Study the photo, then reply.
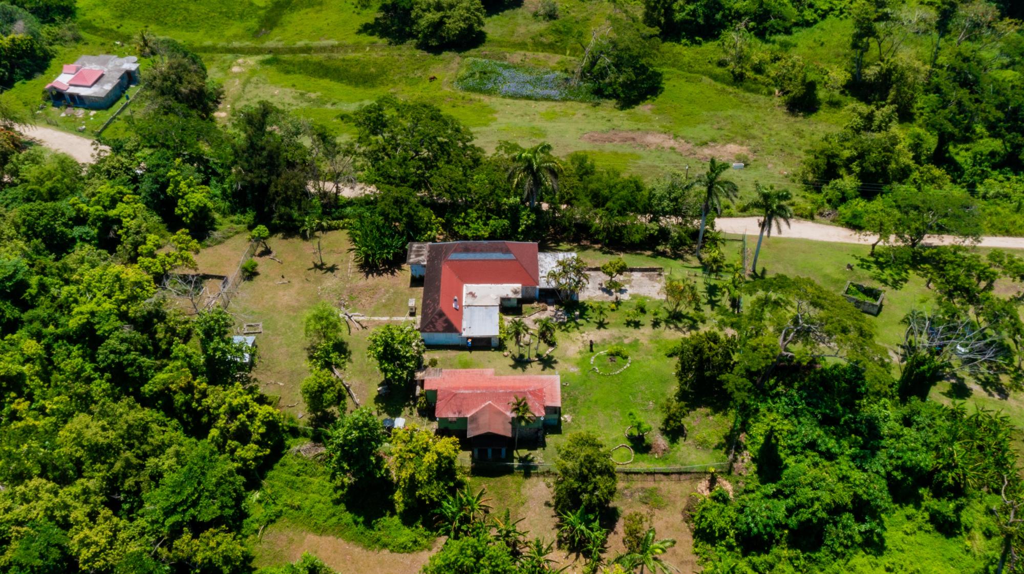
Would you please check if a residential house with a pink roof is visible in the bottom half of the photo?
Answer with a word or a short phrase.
Yes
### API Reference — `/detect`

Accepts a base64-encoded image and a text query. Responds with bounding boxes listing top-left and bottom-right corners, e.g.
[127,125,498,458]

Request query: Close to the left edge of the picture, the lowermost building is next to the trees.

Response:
[45,55,143,113]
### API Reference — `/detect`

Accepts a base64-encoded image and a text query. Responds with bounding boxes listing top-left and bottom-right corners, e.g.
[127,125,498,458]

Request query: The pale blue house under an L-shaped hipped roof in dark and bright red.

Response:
[407,240,577,353]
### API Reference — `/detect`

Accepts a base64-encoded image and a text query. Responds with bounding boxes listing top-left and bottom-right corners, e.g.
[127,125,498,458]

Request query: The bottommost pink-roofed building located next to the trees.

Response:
[416,367,562,460]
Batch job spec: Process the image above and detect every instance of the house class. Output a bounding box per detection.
[407,240,577,353]
[45,55,143,113]
[416,367,562,460]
